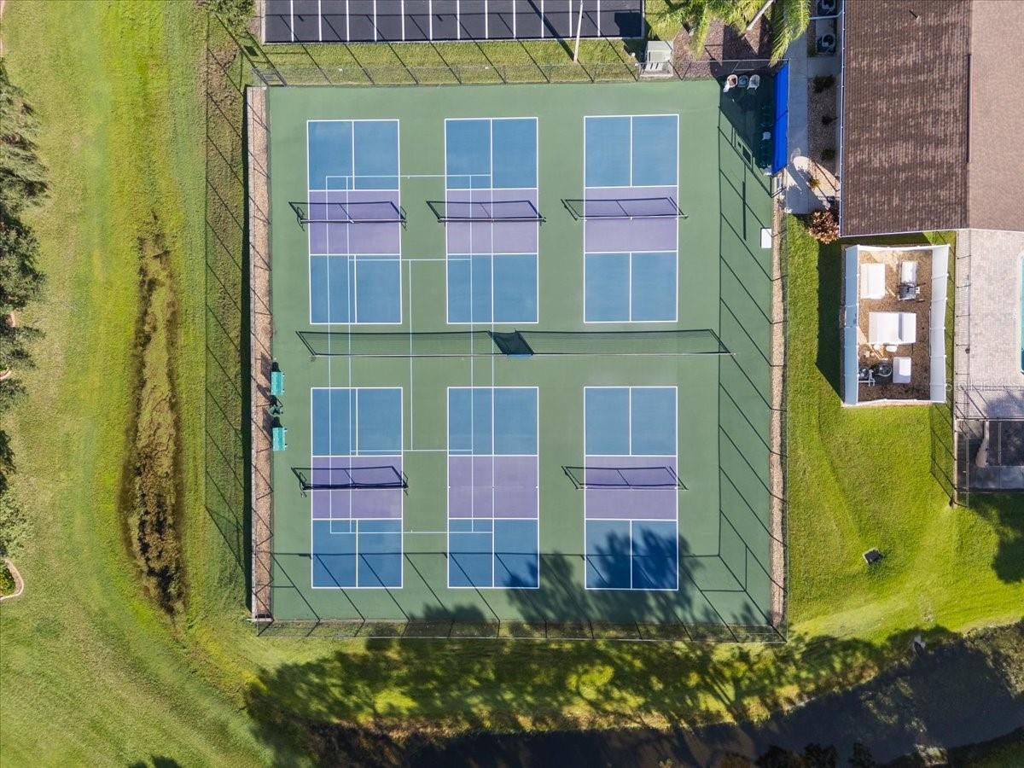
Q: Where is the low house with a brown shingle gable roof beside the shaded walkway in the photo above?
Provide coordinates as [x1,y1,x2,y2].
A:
[834,0,1024,236]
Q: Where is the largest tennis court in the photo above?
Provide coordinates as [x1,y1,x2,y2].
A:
[269,79,774,624]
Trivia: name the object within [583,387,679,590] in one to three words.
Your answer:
sports court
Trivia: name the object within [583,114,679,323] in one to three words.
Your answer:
sports court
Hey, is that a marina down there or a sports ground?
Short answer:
sports ground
